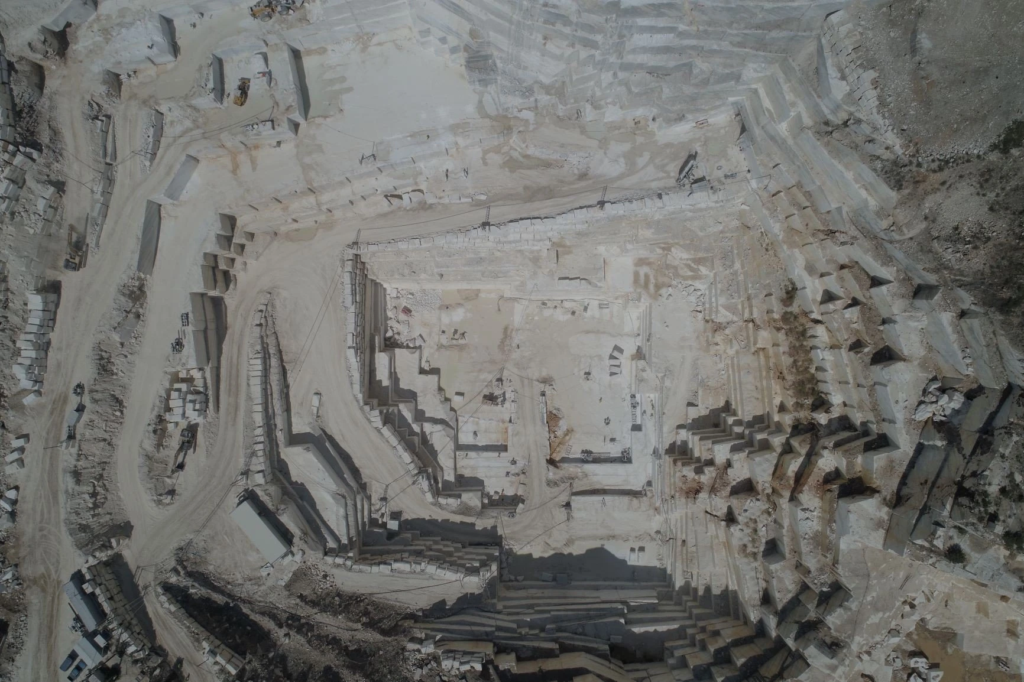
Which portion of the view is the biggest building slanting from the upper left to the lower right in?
bottom left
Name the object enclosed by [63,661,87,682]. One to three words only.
car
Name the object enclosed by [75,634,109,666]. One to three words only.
shed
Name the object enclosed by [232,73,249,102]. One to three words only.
work vehicle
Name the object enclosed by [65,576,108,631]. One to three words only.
shed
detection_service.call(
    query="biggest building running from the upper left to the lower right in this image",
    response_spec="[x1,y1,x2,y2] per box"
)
[234,498,296,560]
